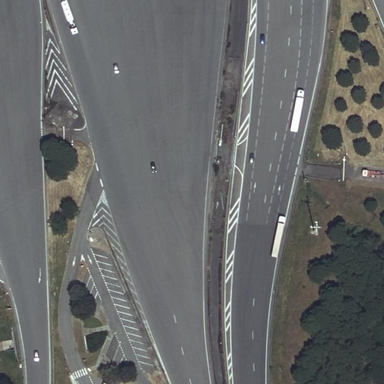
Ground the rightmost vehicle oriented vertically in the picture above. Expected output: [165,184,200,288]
[292,88,306,132]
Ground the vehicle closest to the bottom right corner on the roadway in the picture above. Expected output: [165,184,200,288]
[273,214,287,258]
